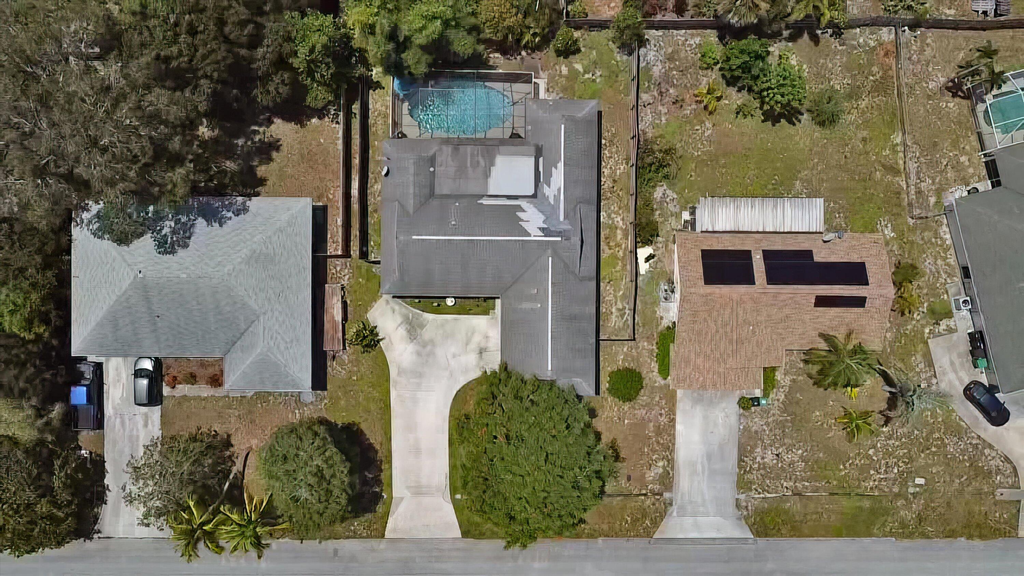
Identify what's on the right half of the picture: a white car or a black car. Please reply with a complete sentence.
You can see a black car on the right half of the picture.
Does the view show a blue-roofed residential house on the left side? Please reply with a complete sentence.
No, looking on the left side, there is no blue-roofed residential house.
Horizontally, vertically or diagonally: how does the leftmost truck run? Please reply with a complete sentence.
In this picture, the leftmost truck lies vertically.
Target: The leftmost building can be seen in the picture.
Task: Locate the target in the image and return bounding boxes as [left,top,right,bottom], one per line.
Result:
[71,197,313,393]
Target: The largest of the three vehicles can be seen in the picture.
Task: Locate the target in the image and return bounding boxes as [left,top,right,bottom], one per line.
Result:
[67,360,103,432]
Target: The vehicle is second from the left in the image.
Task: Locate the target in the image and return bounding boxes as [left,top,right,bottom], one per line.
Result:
[130,358,161,409]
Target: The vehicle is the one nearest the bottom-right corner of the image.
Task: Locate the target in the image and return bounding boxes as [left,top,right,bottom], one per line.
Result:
[963,377,1012,431]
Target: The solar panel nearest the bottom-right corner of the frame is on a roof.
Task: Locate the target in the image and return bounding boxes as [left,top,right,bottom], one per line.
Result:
[814,296,867,308]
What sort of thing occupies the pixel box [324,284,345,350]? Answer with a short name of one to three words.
shed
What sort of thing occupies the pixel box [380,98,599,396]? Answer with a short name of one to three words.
house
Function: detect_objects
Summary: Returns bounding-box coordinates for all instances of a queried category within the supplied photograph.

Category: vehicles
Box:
[963,377,1012,431]
[67,360,103,432]
[130,358,161,409]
